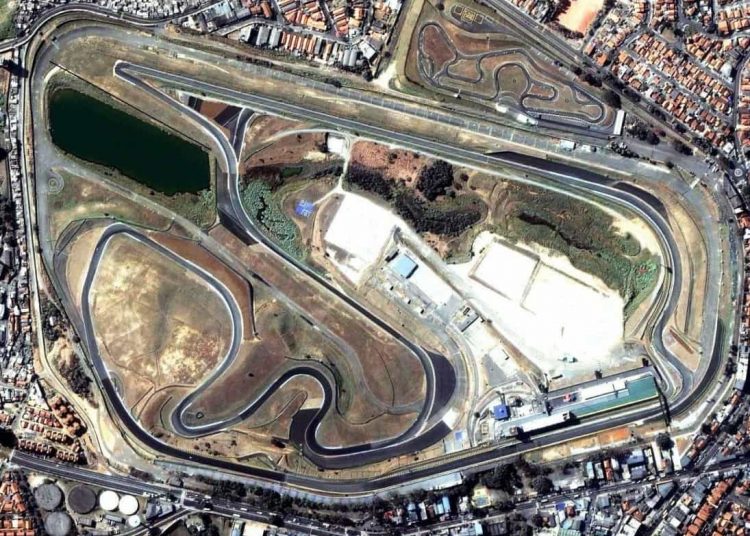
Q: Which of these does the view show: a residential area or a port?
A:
residential area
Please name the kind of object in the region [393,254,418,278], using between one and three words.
building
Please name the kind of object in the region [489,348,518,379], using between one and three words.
building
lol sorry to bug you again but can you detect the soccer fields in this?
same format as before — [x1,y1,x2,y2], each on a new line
[558,0,605,34]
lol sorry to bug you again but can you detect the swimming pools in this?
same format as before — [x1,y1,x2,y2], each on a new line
[472,487,491,507]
